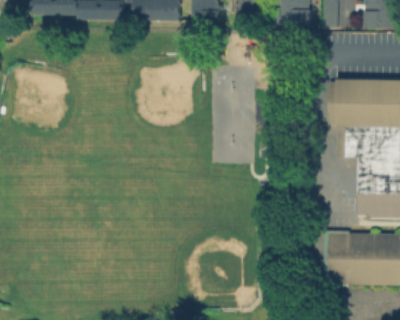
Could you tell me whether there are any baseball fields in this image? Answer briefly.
Yes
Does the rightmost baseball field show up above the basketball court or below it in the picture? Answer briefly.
below it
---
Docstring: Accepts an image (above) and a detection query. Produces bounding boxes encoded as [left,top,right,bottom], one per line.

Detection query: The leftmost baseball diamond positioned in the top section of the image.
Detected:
[0,57,83,142]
